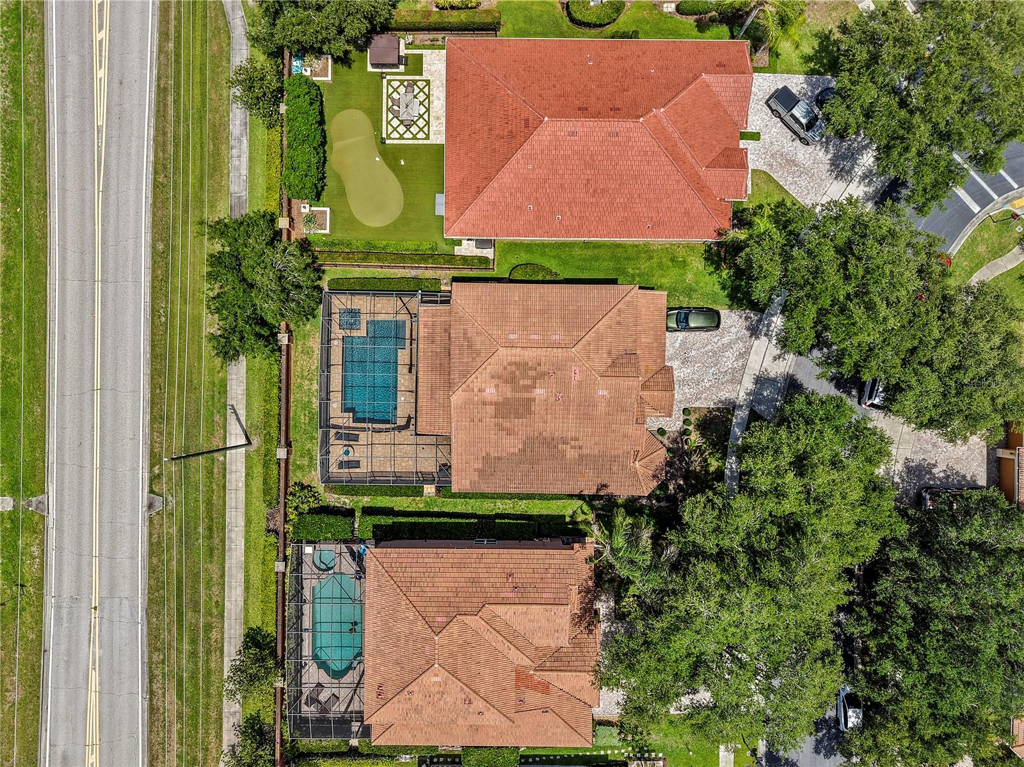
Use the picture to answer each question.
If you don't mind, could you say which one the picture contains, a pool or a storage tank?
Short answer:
pool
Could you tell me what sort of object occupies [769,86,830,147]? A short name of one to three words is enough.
truck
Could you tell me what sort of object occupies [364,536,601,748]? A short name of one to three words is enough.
house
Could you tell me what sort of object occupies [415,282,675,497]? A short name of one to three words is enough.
house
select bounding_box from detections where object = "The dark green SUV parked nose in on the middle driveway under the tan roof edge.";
[666,305,723,334]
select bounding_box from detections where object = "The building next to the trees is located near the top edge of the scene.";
[444,37,752,243]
